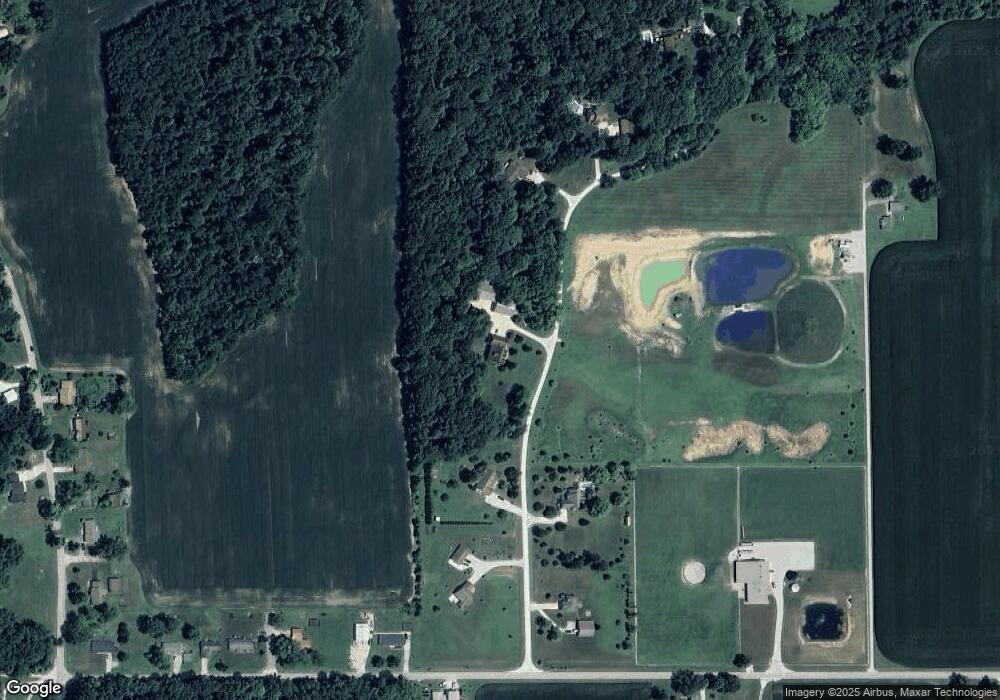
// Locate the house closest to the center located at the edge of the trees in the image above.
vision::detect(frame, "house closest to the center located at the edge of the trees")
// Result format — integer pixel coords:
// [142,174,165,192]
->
[486,333,507,365]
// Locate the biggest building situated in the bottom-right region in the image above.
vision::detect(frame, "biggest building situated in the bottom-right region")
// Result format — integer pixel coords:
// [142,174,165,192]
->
[736,561,771,604]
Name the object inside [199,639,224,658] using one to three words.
house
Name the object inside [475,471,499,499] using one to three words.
house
